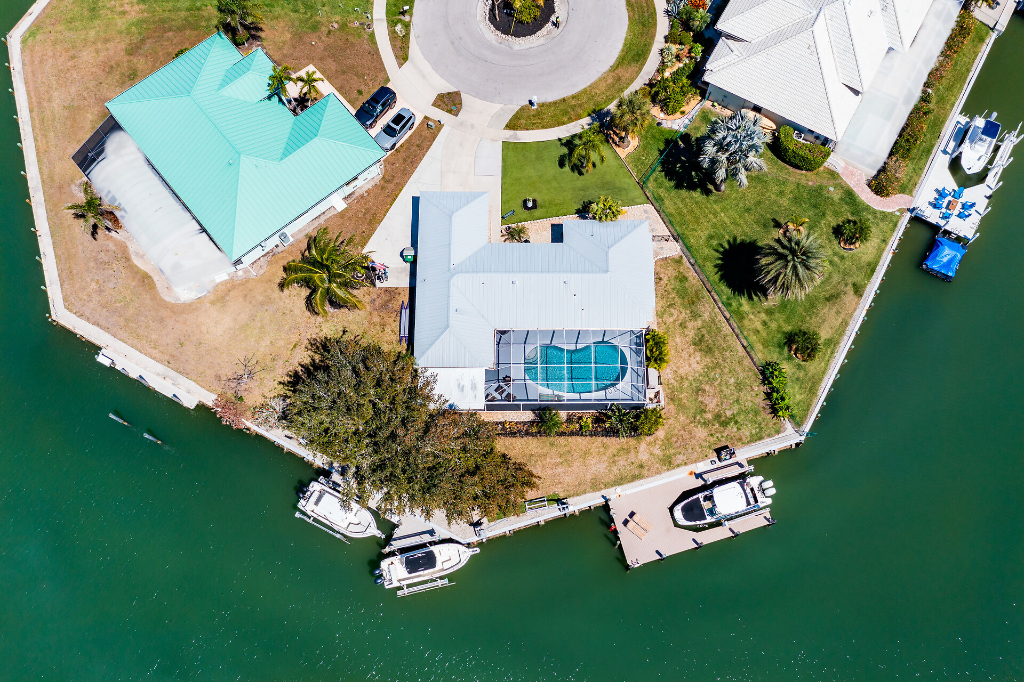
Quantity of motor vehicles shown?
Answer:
2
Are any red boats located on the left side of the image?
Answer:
No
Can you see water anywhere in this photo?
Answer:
Yes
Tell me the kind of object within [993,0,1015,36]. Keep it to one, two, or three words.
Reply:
pier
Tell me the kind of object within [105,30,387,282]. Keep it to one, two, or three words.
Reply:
house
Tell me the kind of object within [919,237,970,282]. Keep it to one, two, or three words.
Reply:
boat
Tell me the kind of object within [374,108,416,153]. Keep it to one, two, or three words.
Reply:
car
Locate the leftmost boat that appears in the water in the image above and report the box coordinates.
[292,481,385,534]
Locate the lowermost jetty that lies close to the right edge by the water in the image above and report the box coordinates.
[912,114,1017,240]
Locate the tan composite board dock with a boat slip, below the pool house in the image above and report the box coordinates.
[609,457,771,565]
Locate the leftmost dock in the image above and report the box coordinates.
[101,349,200,409]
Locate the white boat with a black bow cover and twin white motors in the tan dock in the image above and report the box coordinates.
[673,478,774,521]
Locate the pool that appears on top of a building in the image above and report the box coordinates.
[520,337,632,397]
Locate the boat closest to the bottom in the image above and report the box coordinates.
[371,544,479,592]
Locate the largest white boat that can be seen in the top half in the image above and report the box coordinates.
[961,110,1003,175]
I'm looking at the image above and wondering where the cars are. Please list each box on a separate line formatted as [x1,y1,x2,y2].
[374,108,416,153]
[355,86,398,131]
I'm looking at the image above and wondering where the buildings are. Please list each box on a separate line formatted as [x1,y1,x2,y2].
[105,30,387,282]
[413,190,656,417]
[704,0,935,149]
